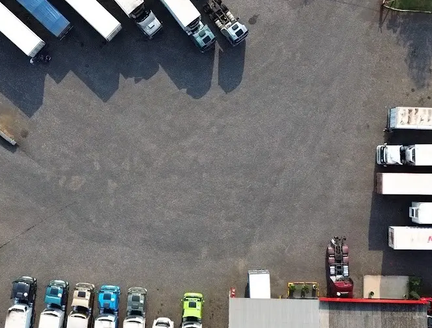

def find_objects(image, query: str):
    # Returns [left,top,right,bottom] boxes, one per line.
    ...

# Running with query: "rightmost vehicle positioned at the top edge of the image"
[204,0,250,48]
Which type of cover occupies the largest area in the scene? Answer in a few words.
paved ground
